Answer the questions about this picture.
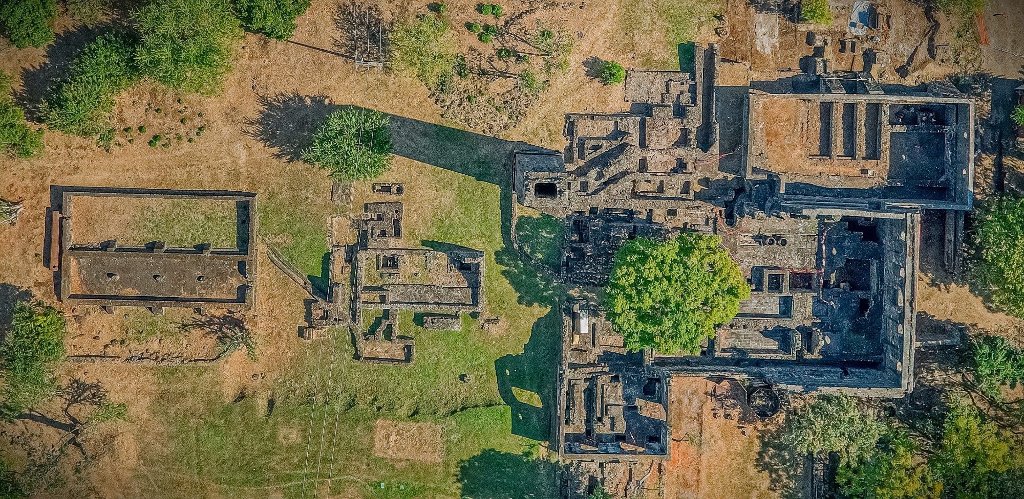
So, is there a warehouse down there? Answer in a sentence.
Yes, the picture does show a warehouse.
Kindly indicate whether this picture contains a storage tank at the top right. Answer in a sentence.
No, no storage tank is visible at the top right.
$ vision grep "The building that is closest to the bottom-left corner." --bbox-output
[62,190,260,315]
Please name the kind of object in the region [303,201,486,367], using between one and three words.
house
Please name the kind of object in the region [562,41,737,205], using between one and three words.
house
